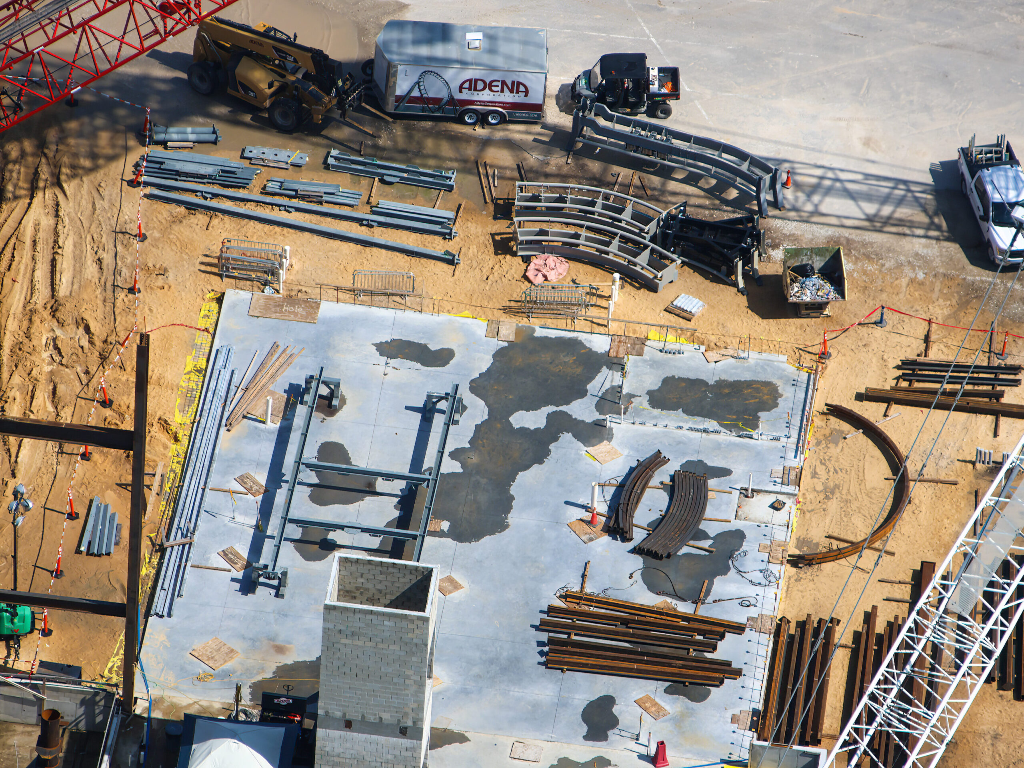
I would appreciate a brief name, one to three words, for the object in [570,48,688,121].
vehicle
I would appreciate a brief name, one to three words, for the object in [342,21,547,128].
trailer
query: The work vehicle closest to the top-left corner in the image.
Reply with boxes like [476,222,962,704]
[176,10,382,154]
